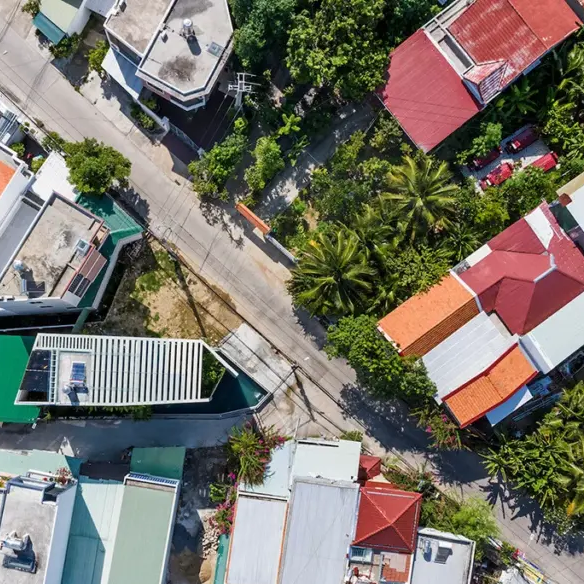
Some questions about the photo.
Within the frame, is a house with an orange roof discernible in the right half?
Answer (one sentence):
Yes, the scene does show a house with an orange roof in the right half.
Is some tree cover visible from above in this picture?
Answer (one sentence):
Yes, some tree cover is visible.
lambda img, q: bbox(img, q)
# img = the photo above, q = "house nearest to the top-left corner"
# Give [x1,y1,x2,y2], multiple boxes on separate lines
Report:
[30,0,108,53]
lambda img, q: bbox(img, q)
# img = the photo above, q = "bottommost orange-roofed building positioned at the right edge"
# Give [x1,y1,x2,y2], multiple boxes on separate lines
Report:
[432,342,560,433]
